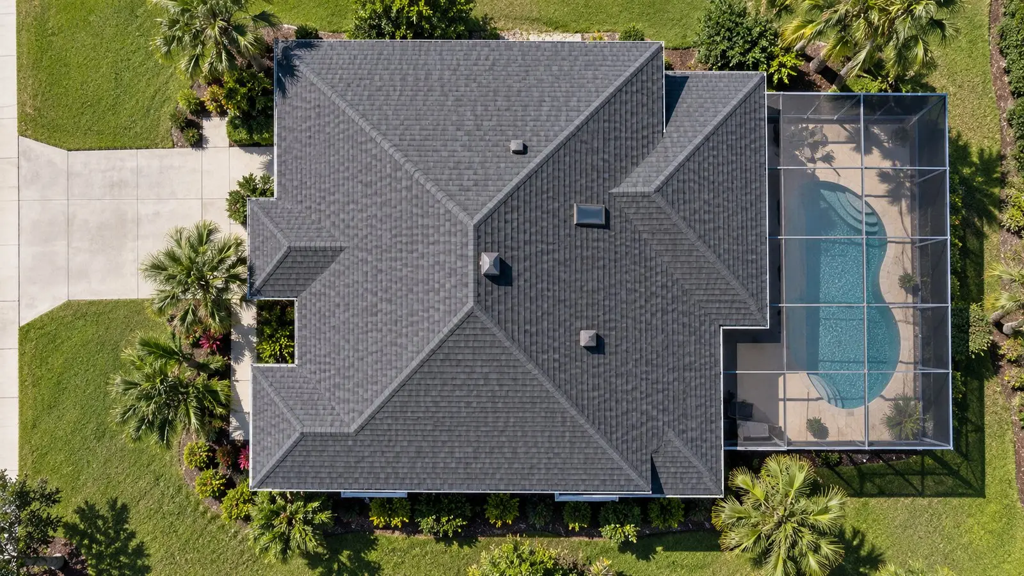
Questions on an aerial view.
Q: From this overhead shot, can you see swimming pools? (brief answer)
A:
Yes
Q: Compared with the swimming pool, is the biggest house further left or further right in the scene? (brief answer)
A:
to the left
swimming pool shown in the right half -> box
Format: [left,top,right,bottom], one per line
[776,173,908,416]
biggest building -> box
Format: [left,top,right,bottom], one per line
[245,38,771,503]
